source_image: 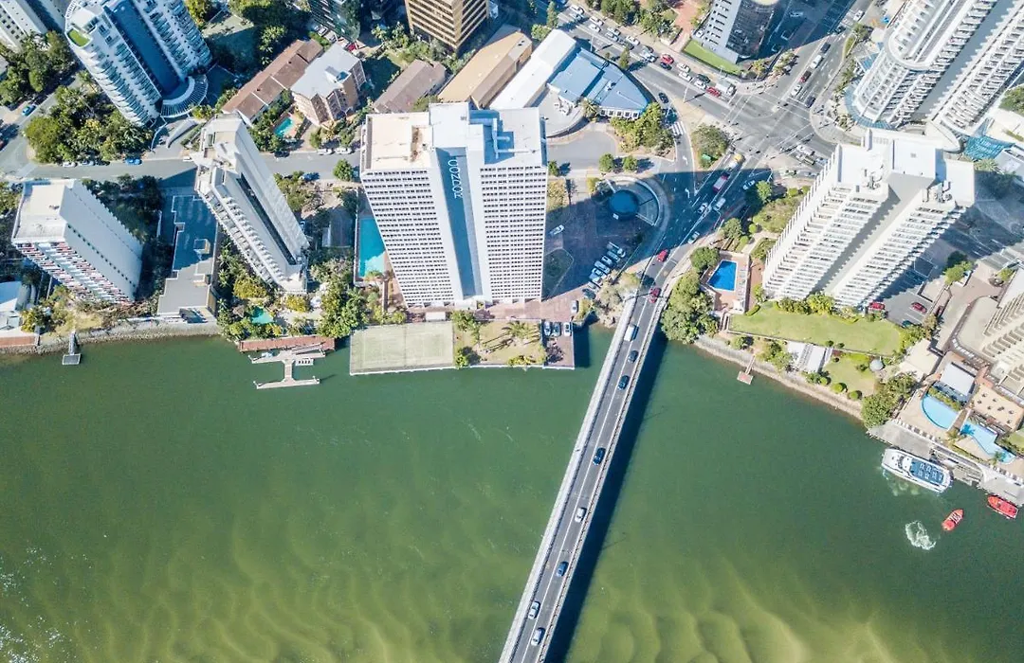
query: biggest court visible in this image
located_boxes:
[349,319,452,370]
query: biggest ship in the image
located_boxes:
[881,449,953,491]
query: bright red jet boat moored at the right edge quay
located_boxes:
[987,498,1019,520]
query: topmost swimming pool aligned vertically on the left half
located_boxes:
[357,215,388,280]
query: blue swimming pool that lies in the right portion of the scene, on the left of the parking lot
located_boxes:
[707,258,739,292]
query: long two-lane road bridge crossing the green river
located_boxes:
[499,252,689,663]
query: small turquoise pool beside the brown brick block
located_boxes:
[272,116,295,136]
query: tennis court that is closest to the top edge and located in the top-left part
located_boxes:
[200,12,258,58]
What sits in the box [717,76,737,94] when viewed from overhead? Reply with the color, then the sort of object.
white vehicle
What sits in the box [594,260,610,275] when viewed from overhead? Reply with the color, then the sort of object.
blue vehicle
